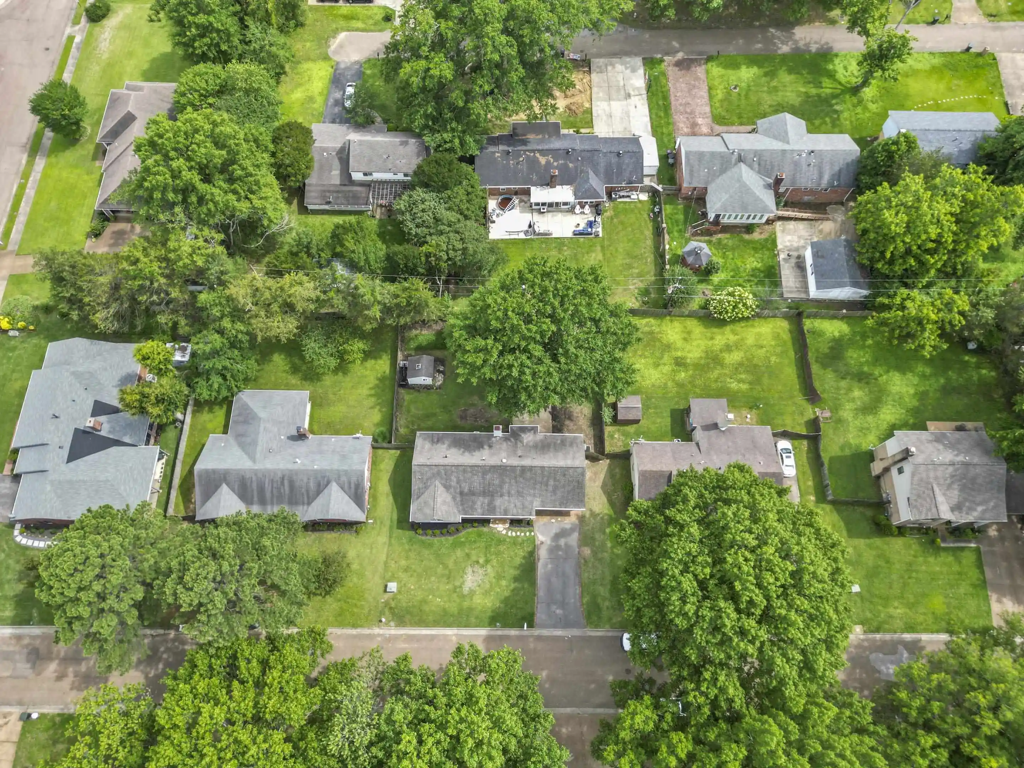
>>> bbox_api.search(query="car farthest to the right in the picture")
[775,439,799,478]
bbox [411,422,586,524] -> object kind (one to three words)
house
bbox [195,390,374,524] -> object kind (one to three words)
house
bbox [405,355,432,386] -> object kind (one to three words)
shed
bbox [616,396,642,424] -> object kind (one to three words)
shed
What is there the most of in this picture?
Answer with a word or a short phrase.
trees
